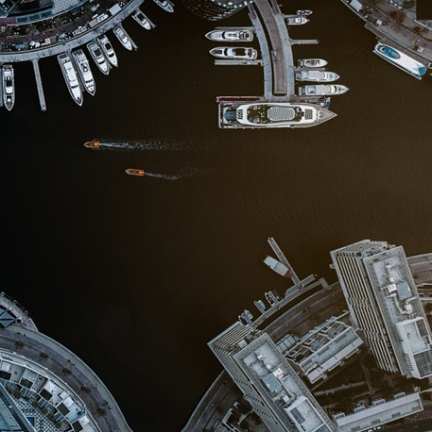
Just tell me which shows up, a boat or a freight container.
boat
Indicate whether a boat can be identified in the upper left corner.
Yes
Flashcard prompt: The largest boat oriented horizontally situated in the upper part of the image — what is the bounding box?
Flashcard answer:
[218,102,338,127]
